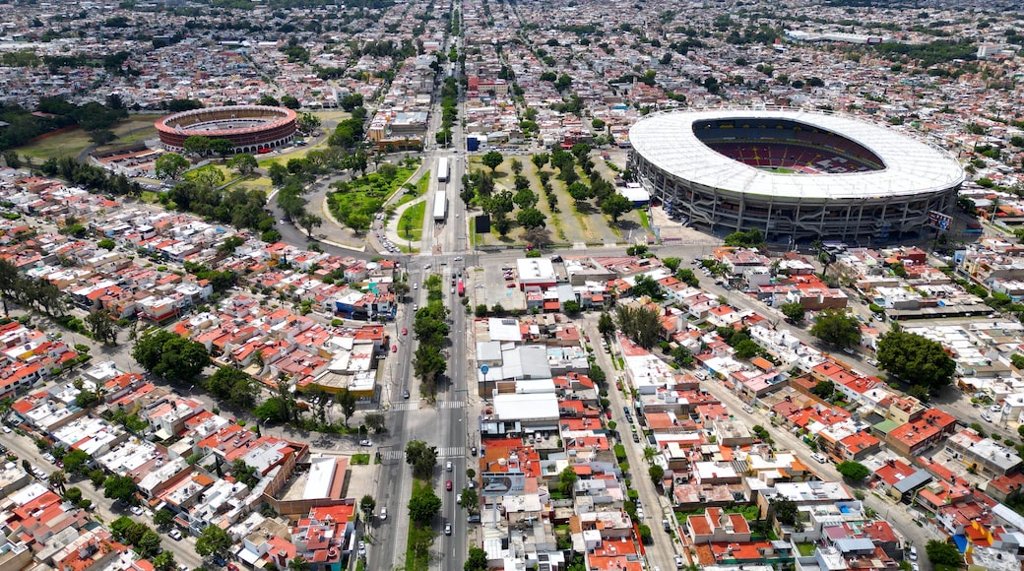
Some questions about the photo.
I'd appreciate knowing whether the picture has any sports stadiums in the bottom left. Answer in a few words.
No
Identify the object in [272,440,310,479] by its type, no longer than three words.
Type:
house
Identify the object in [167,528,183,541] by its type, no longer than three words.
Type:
vehicle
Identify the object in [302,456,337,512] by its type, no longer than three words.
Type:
building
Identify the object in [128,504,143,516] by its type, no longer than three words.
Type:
vehicle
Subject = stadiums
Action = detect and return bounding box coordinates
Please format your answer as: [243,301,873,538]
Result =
[628,105,965,247]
